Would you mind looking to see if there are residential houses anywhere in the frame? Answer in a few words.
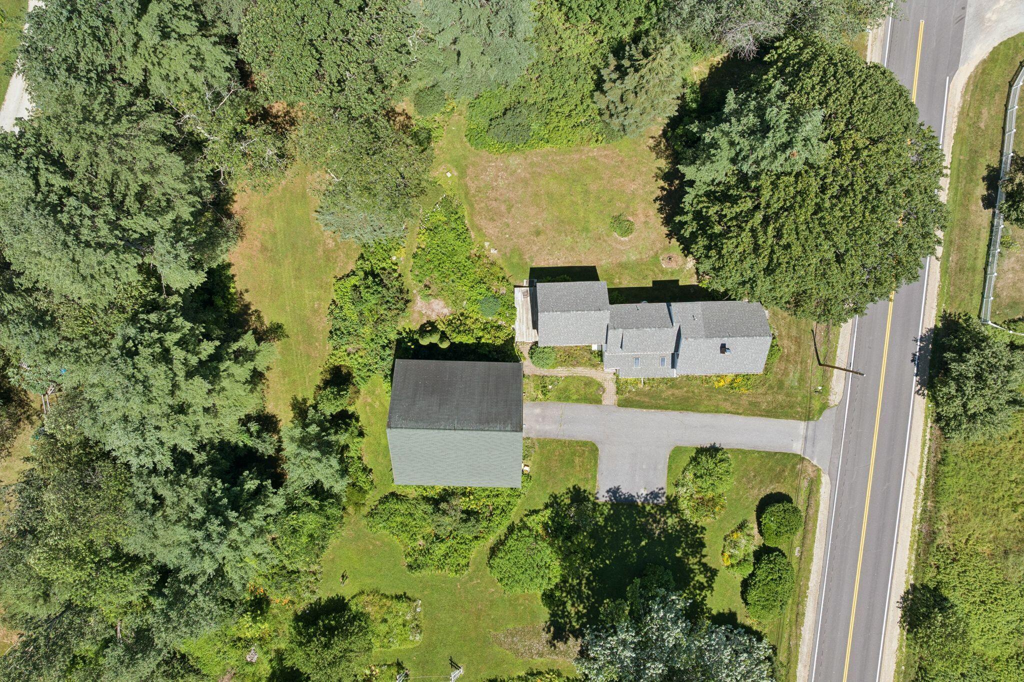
Yes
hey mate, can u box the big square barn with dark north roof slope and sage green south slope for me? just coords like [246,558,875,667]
[387,359,524,488]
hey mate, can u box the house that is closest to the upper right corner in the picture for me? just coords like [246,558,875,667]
[536,282,773,379]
